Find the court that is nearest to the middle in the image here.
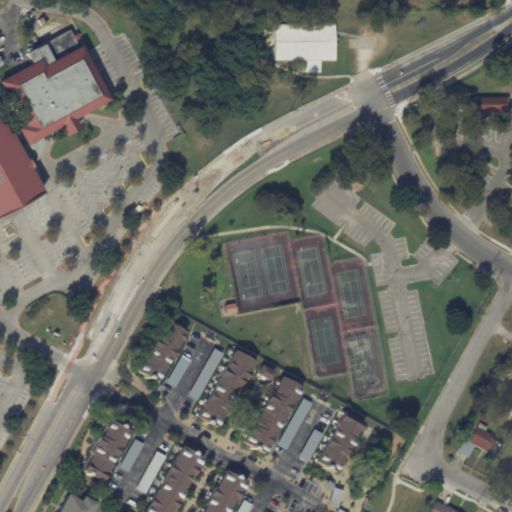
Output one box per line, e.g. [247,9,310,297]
[228,232,302,312]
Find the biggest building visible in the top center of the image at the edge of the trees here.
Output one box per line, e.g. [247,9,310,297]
[274,24,338,72]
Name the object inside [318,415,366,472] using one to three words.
building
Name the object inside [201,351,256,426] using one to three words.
building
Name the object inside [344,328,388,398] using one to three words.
tennis court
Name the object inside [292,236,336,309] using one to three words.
tennis court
